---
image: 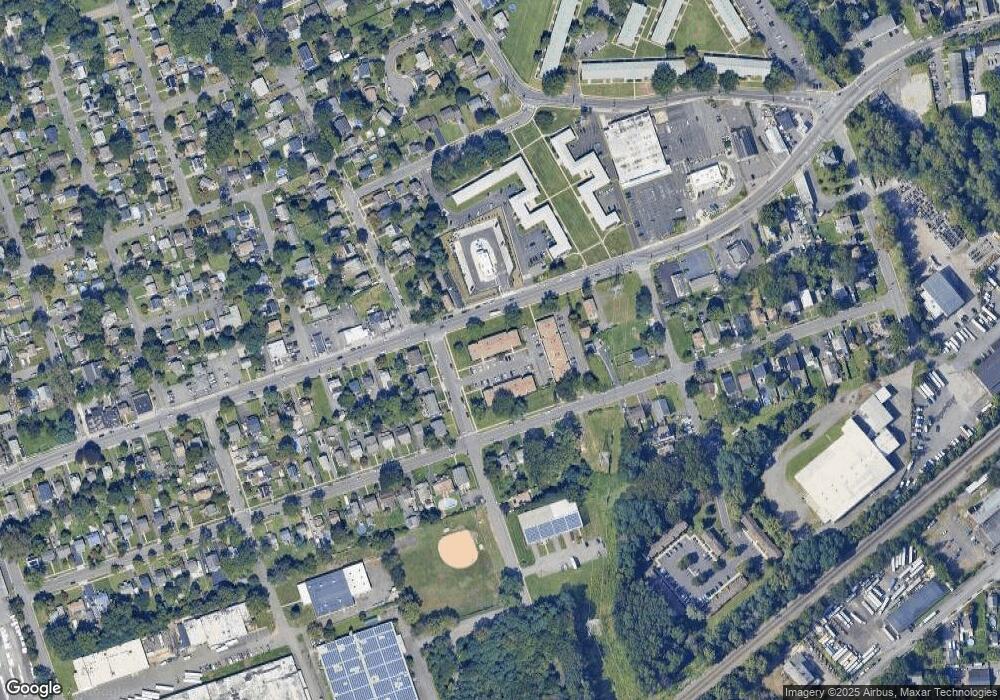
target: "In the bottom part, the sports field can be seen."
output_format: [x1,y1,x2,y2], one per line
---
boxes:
[438,528,482,570]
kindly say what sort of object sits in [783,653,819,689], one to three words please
shed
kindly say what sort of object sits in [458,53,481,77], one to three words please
house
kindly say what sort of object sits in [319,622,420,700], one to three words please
building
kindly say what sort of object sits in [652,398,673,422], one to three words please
house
